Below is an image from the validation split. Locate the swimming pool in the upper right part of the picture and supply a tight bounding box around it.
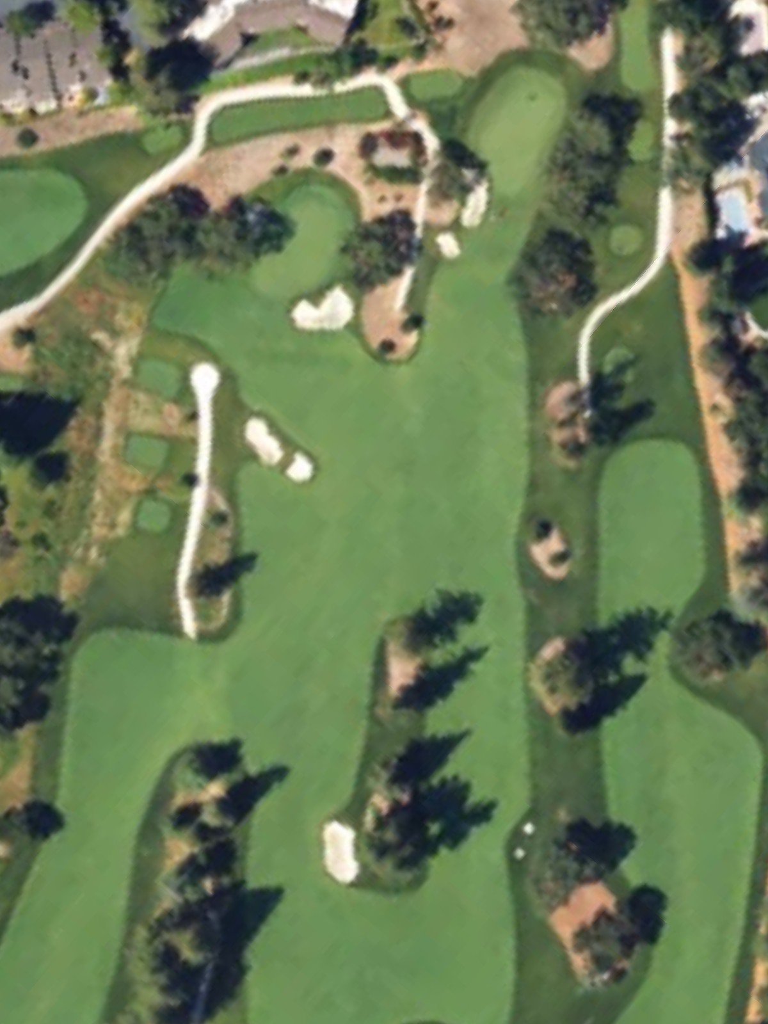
[727,190,753,234]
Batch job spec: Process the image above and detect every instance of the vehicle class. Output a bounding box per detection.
[524,823,532,834]
[515,848,524,859]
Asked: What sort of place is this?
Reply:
golf course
